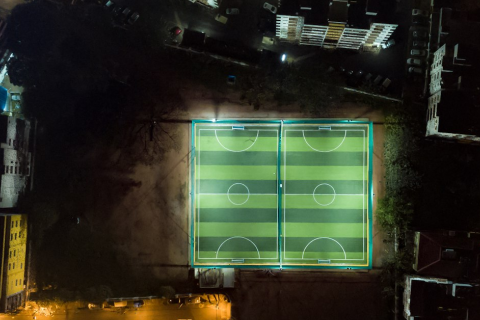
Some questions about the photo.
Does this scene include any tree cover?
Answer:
Yes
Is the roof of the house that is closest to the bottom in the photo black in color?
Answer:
Yes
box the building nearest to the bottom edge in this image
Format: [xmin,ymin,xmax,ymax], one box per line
[402,275,480,320]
